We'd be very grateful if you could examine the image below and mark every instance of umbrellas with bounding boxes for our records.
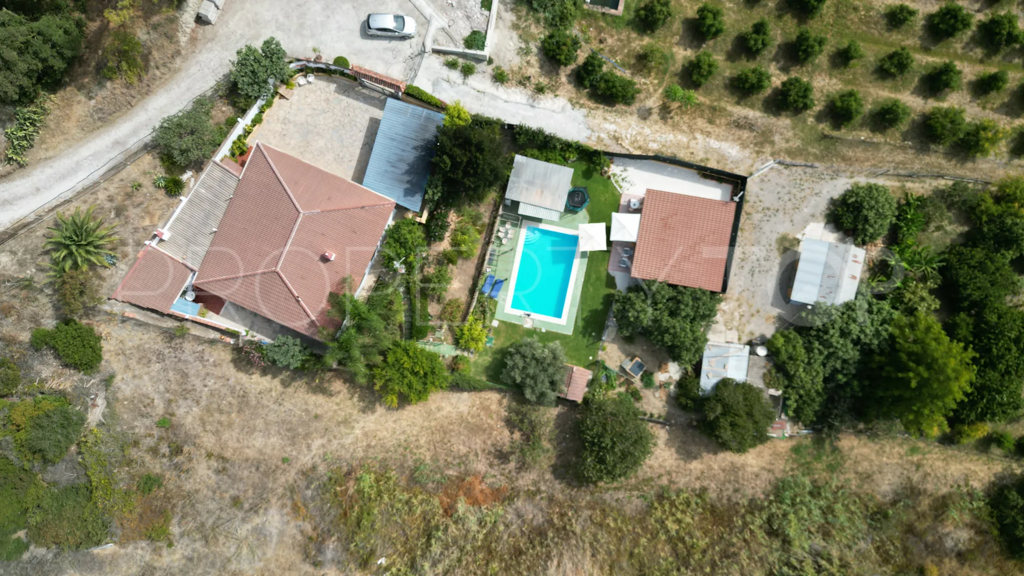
[580,222,607,251]
[610,213,640,241]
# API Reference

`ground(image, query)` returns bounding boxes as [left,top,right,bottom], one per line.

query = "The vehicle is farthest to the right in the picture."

[366,12,416,39]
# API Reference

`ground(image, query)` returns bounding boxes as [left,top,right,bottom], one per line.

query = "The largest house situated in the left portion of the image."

[191,139,396,345]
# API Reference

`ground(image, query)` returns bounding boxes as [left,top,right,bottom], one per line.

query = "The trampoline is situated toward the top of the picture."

[568,187,589,212]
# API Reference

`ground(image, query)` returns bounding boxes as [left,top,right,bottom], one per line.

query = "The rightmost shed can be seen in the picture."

[780,238,865,305]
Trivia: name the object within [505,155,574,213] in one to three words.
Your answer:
shed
